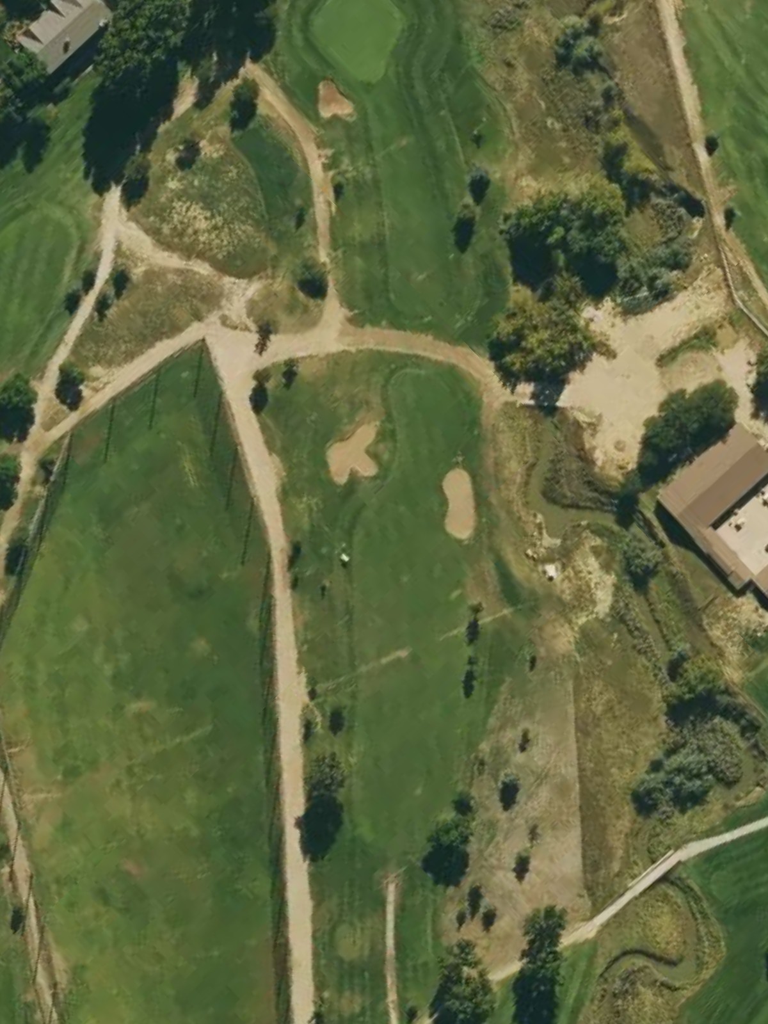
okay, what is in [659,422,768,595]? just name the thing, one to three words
building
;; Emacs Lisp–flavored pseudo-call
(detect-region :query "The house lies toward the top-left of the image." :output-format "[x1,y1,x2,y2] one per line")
[19,0,110,70]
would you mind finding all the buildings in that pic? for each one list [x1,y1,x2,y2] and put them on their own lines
[19,0,110,70]
[659,422,768,595]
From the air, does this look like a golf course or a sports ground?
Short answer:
golf course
